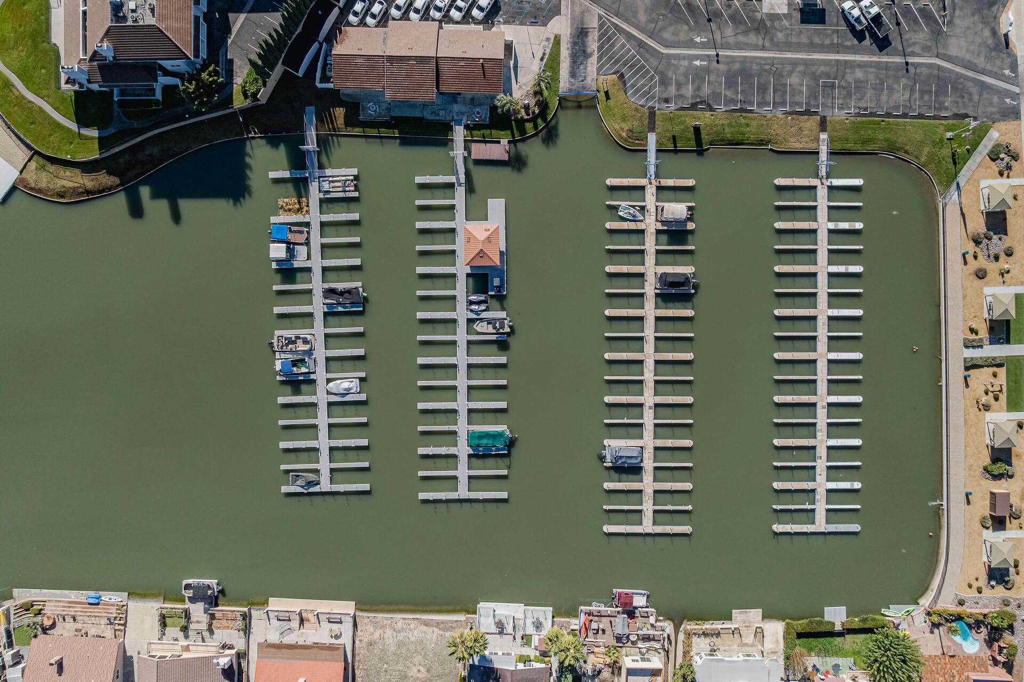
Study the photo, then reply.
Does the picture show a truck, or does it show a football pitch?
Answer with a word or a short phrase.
truck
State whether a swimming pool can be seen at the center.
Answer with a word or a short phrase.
No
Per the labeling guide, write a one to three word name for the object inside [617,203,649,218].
boat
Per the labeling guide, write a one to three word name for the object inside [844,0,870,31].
truck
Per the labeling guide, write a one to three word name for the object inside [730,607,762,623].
pier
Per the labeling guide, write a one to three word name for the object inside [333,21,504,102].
building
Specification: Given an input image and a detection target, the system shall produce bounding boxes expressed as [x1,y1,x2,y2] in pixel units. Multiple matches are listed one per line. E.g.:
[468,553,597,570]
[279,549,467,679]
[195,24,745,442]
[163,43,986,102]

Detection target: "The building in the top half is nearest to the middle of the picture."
[464,199,506,295]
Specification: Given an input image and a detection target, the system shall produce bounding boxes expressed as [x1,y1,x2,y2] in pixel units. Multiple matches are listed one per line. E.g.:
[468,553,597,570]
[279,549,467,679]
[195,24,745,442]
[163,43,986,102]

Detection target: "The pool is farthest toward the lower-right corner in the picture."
[951,620,981,655]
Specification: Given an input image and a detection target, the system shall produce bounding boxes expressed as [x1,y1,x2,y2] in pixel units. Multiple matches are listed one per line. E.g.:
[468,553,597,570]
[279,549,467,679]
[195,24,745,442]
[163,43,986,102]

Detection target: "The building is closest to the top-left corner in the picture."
[60,0,218,103]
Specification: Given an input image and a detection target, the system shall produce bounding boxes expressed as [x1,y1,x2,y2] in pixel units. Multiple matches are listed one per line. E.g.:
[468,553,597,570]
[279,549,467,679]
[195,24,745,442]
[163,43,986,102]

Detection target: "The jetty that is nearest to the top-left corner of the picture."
[0,159,22,206]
